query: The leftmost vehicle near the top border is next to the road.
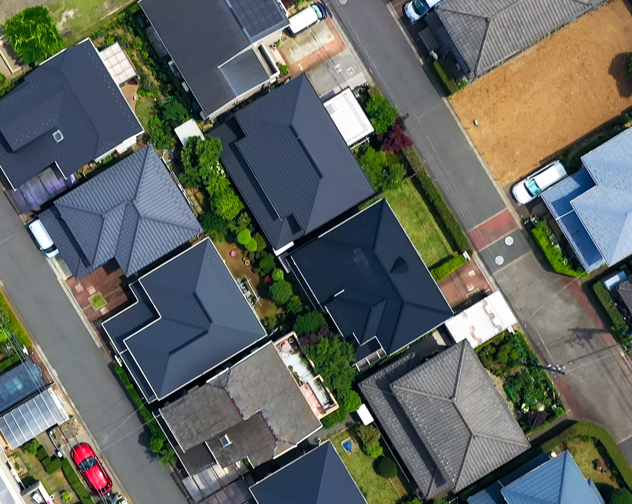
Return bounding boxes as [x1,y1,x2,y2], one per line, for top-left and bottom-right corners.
[284,0,331,38]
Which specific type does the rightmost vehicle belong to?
automobile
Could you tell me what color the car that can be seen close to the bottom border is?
red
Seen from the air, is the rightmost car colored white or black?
white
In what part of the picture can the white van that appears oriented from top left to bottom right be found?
left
